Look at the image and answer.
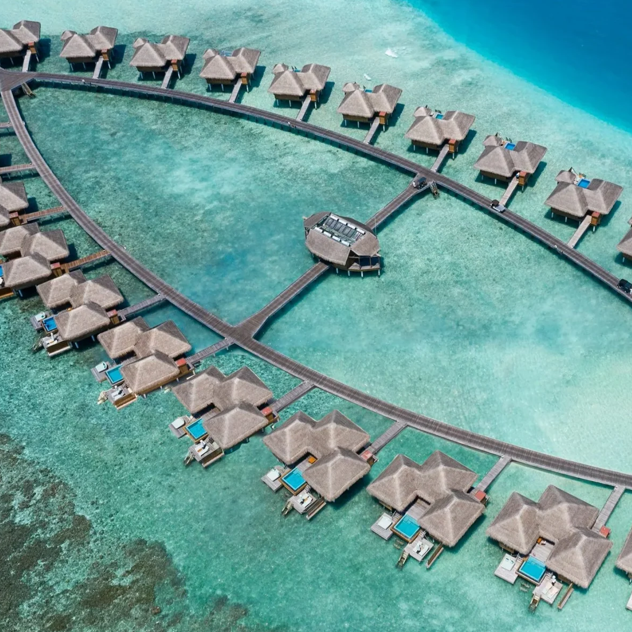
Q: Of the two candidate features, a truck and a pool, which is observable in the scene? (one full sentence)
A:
The image shows a pool.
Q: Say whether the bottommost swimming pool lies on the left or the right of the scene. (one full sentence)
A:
It is on the right.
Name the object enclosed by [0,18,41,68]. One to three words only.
house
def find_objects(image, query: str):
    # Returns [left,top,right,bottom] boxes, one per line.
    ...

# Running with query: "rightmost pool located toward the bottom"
[516,556,549,586]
